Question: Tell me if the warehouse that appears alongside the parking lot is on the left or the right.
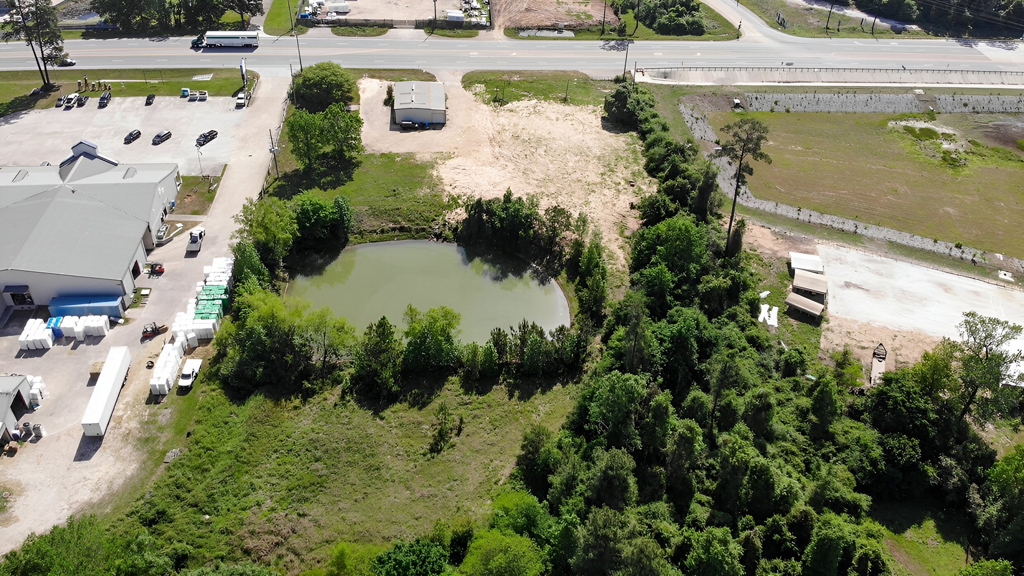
left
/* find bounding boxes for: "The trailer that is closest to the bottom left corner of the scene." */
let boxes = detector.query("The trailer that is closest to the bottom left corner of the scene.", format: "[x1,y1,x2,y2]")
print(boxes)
[81,347,133,436]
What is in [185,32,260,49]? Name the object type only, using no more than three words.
vehicle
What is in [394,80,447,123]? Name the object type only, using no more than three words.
shed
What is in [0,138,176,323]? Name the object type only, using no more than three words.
warehouse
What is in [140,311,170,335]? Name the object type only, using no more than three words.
work vehicle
